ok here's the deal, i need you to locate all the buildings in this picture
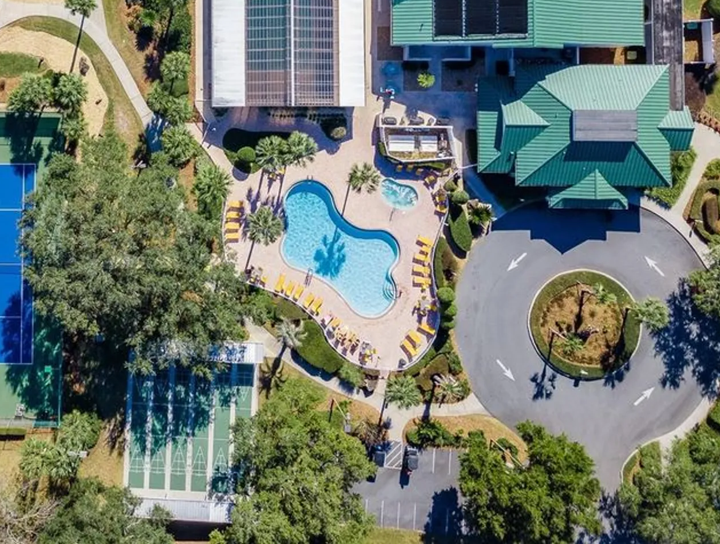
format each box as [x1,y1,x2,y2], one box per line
[471,64,694,208]
[212,0,366,109]
[389,0,644,49]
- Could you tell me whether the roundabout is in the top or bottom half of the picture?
bottom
